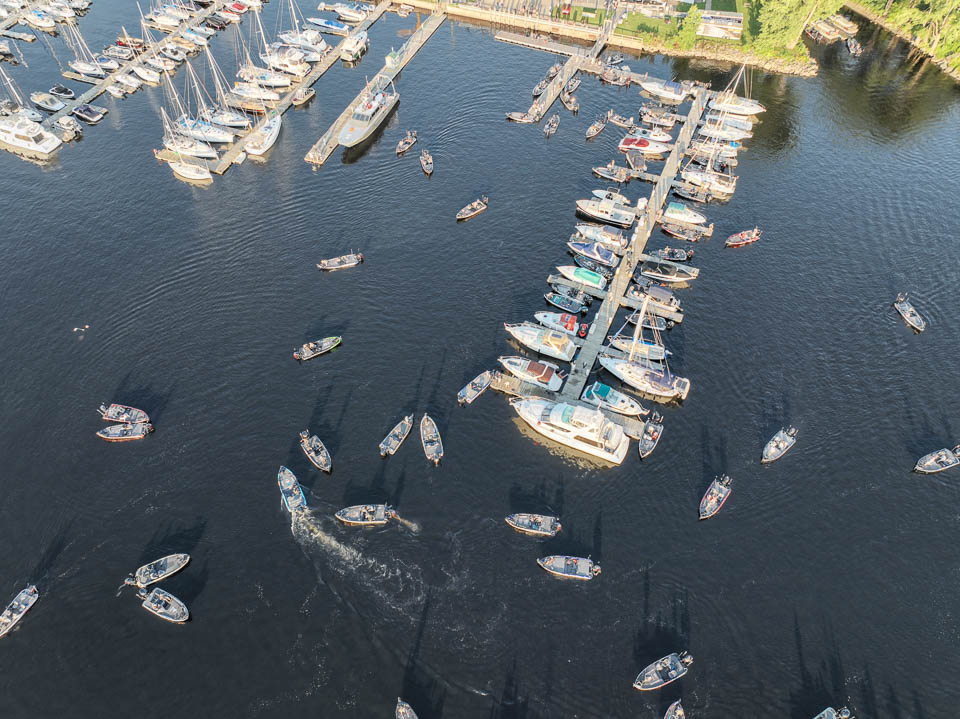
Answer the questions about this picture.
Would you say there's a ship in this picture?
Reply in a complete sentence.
Yes, looking at the shot, I can spot a ship.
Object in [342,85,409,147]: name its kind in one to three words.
ship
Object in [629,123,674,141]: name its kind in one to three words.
boat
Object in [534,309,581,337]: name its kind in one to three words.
boat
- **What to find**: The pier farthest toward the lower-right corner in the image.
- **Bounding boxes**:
[490,374,646,440]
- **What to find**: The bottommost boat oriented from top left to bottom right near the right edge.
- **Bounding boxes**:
[891,300,924,332]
